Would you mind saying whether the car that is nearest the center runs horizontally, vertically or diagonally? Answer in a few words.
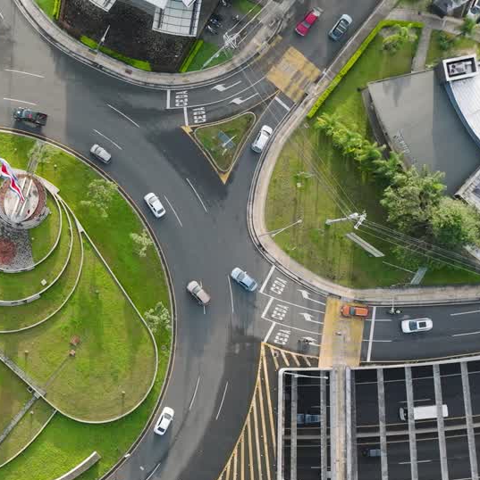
diagonally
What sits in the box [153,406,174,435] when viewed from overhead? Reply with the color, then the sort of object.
white car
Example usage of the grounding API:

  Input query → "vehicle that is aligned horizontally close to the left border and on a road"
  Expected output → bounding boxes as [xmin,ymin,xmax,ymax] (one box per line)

[13,108,48,126]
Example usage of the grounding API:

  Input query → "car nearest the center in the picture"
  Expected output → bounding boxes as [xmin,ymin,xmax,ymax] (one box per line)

[229,266,258,291]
